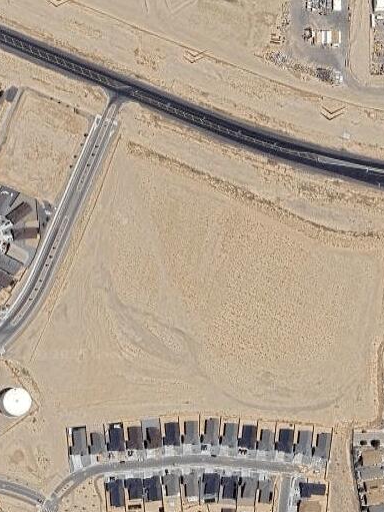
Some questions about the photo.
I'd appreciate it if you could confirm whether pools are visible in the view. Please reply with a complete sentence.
No, no pool is visible in the scene.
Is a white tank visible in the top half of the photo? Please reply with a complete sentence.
No, there is no white tank in the top half of the photo.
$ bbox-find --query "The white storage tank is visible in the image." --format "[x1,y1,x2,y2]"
[1,387,31,416]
